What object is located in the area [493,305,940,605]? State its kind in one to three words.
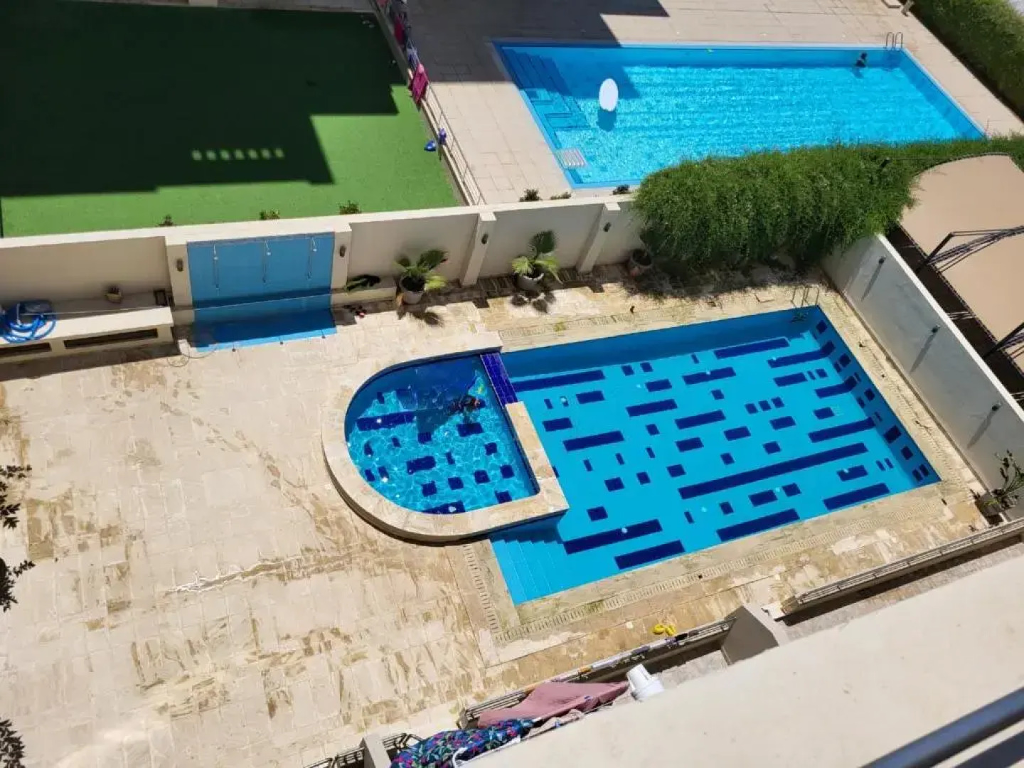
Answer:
swimming pool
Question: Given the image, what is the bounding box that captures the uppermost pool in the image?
[488,39,982,192]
